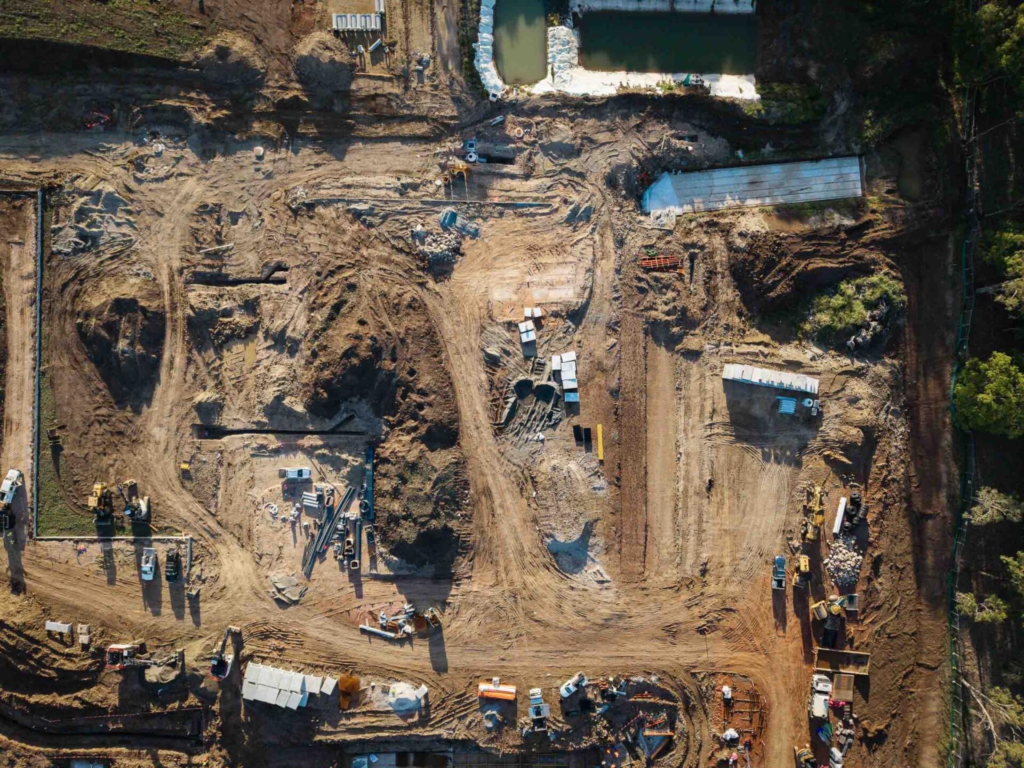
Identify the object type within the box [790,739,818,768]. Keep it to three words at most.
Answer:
work vehicle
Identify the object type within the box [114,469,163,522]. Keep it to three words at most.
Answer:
work vehicle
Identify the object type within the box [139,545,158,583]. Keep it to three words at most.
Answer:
vehicle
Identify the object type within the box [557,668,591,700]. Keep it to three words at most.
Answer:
truck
